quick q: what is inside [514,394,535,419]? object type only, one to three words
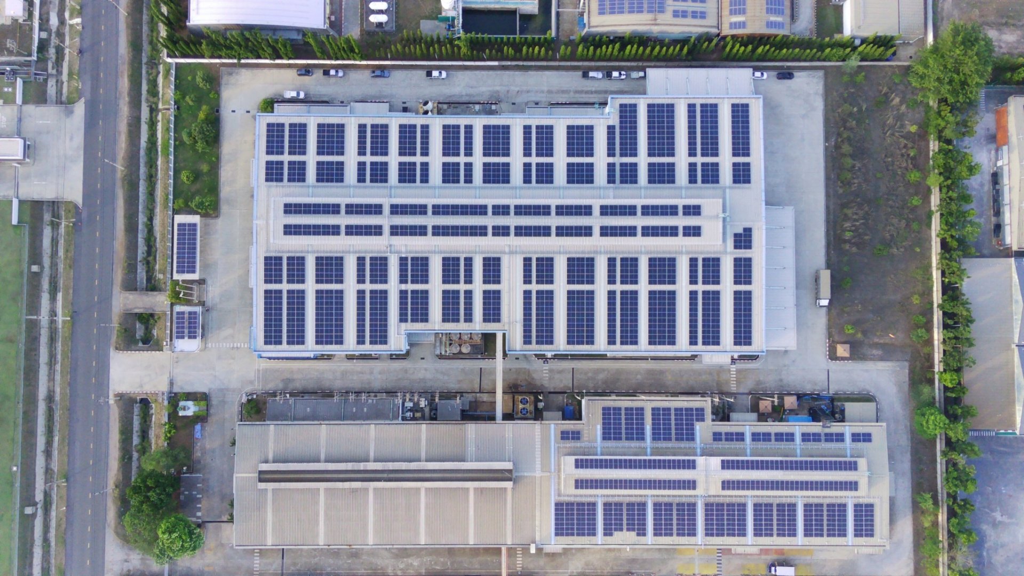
cooling tower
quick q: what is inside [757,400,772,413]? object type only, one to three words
gazebo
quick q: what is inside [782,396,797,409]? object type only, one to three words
gazebo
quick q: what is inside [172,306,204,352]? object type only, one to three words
building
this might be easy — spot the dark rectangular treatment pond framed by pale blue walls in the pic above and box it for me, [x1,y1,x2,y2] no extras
[455,0,557,41]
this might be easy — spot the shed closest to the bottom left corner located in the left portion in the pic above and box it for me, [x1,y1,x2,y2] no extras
[179,473,205,522]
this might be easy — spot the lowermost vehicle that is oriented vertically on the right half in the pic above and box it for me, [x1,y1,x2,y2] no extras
[816,269,831,307]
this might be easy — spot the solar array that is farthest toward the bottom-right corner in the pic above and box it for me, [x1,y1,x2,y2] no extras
[854,504,874,537]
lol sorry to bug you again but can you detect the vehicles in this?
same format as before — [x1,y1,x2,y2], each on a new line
[776,71,794,80]
[630,70,646,79]
[816,269,831,307]
[767,562,796,576]
[372,69,389,78]
[606,70,626,79]
[297,67,312,76]
[427,71,446,79]
[284,90,304,98]
[989,174,1005,214]
[753,71,766,80]
[323,68,343,77]
[583,70,602,79]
